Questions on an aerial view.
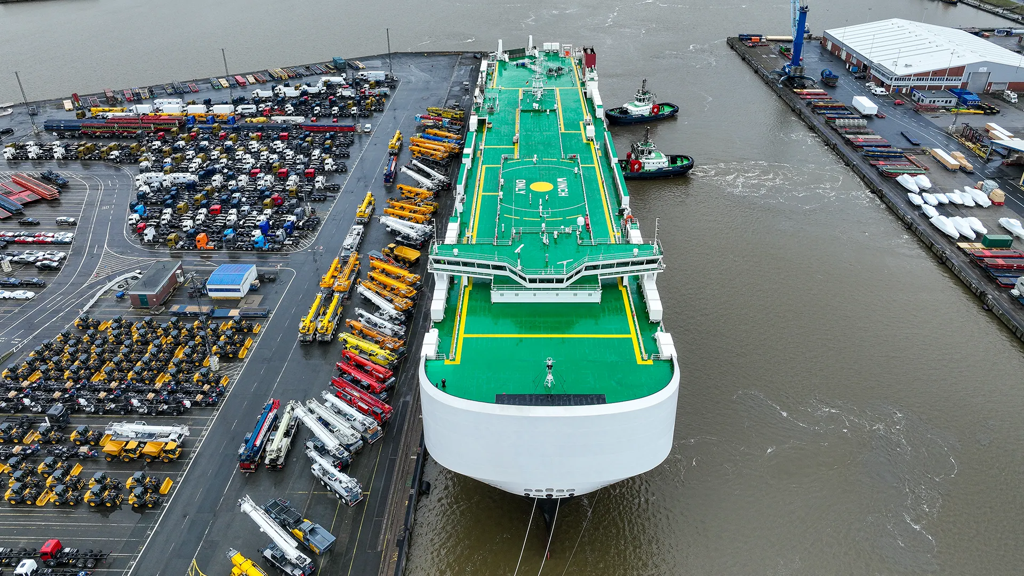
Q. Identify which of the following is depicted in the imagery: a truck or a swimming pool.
truck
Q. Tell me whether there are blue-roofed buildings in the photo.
Yes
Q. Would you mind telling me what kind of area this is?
port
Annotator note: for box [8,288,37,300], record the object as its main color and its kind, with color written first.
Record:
white vehicle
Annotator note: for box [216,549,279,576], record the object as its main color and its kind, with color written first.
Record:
yellow crane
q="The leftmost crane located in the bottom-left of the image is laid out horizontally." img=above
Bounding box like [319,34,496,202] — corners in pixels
[99,416,192,446]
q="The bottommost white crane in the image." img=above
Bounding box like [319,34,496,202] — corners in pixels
[237,498,323,576]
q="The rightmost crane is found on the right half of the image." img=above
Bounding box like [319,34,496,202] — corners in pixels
[762,0,829,86]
